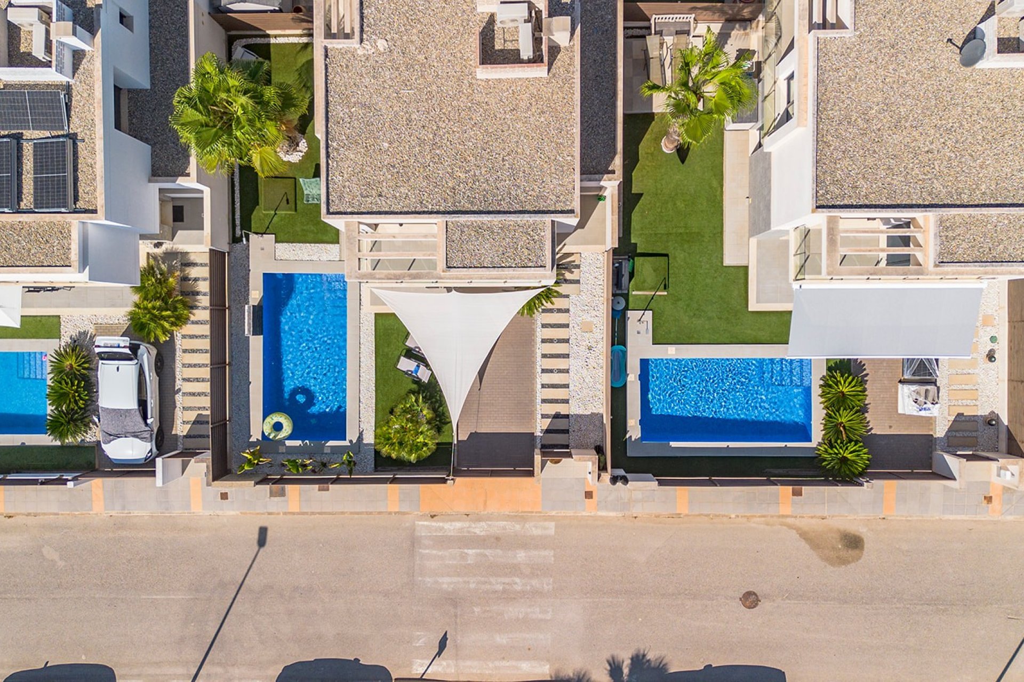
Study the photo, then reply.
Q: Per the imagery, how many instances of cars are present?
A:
1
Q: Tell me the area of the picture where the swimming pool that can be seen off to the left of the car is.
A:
left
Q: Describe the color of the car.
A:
white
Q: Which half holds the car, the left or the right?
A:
left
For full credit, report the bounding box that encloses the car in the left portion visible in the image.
[91,327,167,464]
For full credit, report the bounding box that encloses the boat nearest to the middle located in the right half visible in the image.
[612,346,627,387]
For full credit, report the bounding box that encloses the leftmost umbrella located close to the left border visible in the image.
[0,289,23,327]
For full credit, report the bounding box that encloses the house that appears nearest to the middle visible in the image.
[315,0,625,289]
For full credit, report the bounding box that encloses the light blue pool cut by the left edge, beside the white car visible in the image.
[0,352,47,434]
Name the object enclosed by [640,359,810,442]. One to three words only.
swimming pool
